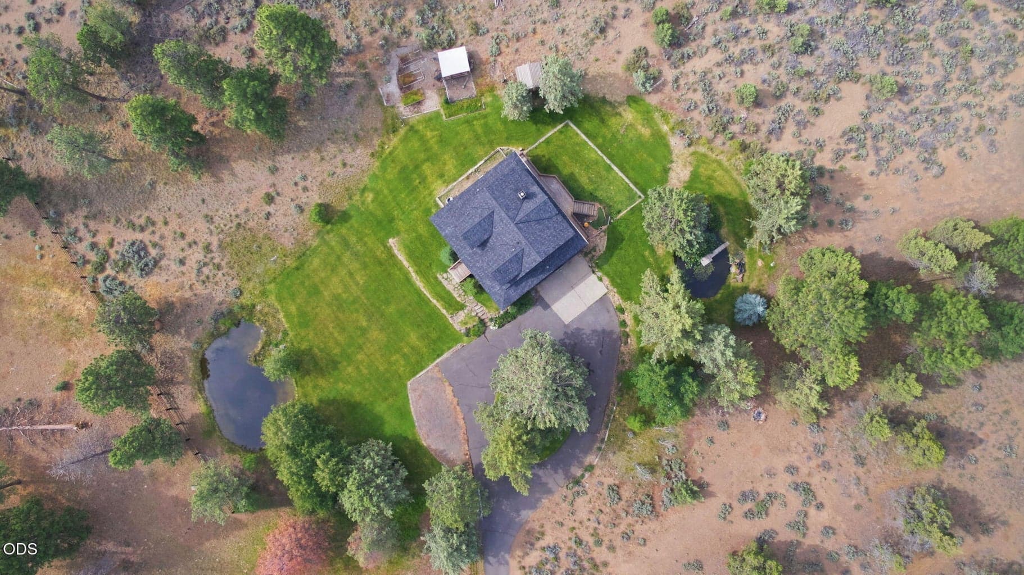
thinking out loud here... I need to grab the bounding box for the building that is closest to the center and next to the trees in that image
[429,151,595,312]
